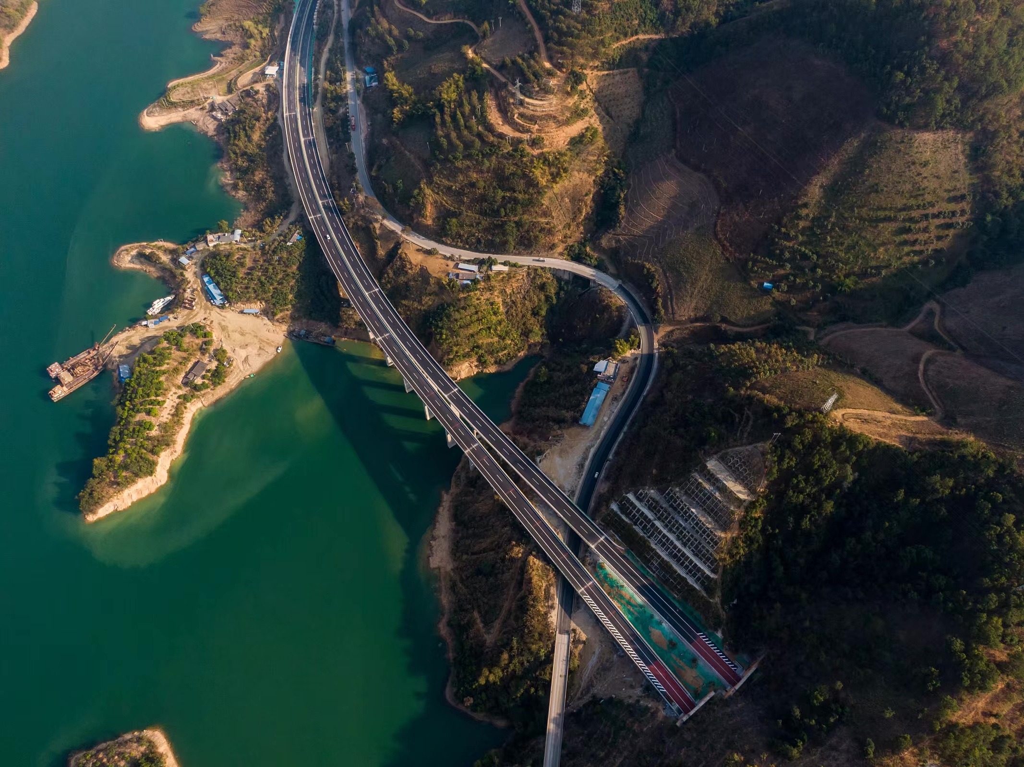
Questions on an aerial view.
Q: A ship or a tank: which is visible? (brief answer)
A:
ship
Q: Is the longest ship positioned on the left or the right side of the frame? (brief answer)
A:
left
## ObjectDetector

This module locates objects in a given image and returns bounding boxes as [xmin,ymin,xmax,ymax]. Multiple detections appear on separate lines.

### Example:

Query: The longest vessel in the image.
[47,324,118,400]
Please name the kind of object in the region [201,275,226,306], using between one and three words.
building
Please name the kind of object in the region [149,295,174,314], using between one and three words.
boat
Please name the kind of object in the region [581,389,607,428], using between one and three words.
building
